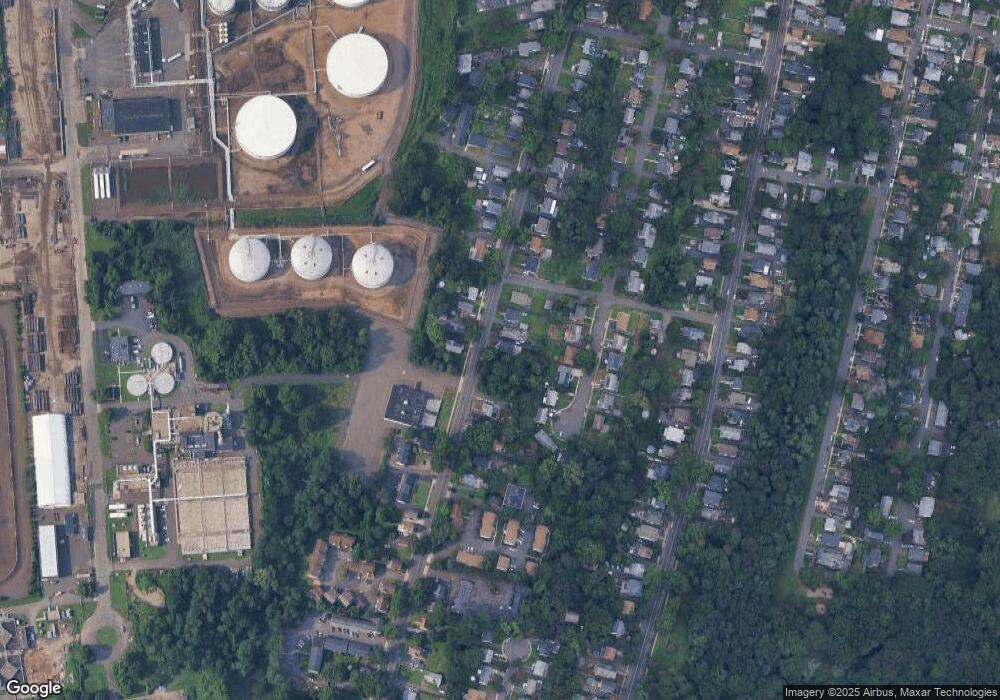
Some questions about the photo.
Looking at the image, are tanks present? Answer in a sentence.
Yes, the image includes a tank.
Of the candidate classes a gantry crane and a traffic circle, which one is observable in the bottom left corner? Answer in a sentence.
Visible in the bottom left corner is a traffic circle.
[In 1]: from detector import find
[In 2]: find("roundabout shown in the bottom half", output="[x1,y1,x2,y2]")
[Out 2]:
[80,597,130,661]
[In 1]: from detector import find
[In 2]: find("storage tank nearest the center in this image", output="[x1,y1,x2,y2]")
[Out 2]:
[352,243,395,287]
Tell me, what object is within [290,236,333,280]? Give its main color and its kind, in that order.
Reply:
white storage tank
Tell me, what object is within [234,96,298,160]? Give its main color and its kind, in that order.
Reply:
white storage tank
